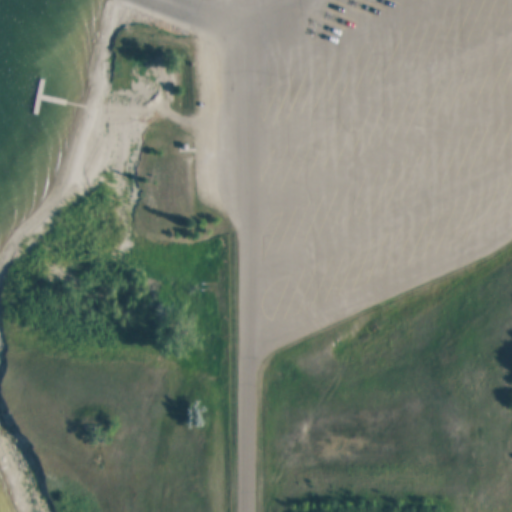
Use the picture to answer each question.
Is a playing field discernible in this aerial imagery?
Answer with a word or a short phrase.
No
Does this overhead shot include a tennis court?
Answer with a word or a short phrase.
No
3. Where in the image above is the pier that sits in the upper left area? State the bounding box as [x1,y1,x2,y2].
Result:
[34,80,91,116]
